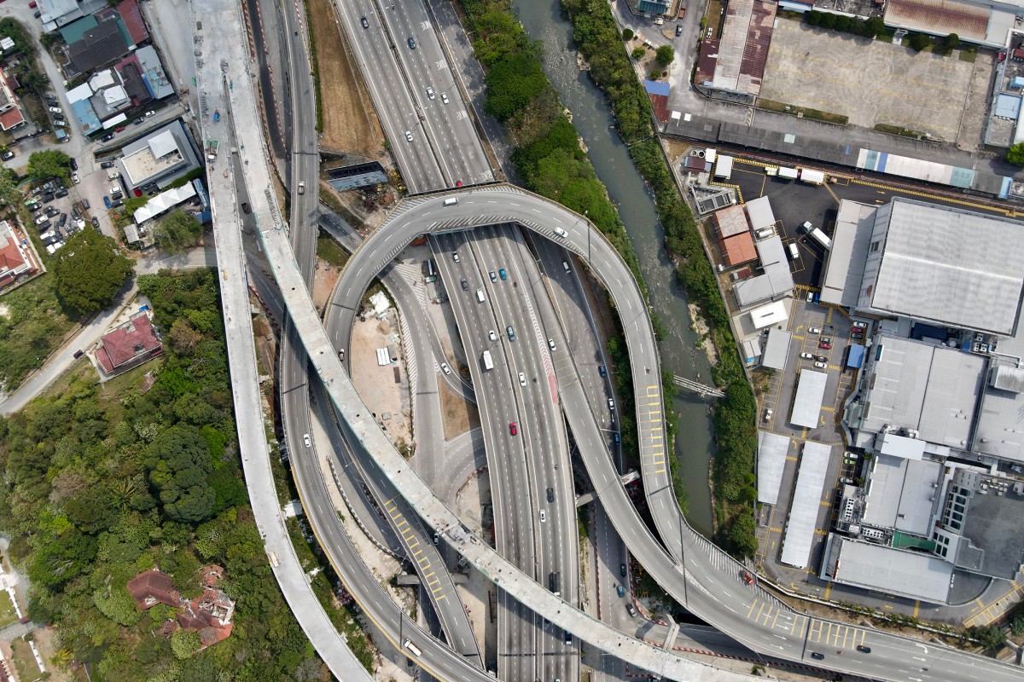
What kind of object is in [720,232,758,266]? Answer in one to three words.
building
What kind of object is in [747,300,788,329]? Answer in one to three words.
shed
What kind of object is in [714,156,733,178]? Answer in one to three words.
building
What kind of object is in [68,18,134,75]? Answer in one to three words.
house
